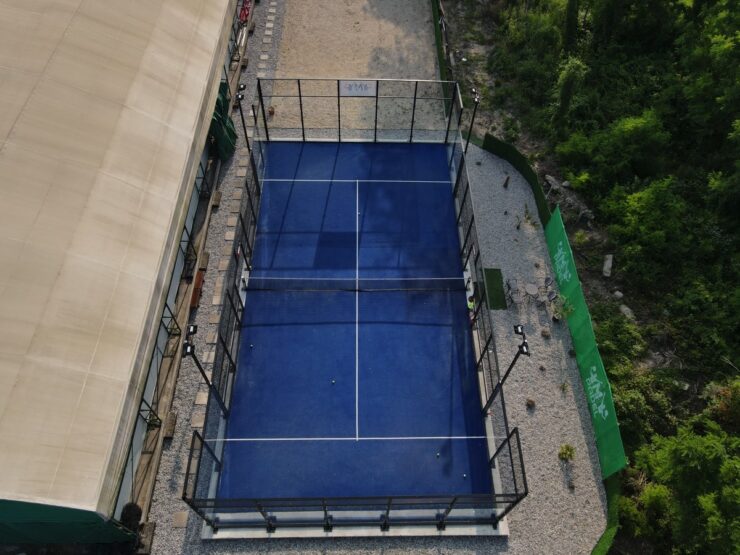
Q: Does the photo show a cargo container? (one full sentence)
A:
No, the scene contains no cargo container.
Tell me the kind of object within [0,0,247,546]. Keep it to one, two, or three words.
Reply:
tent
